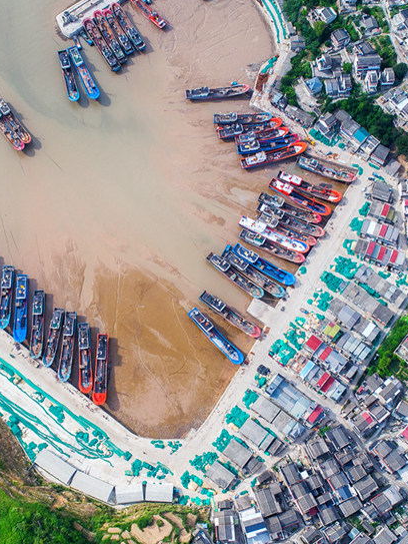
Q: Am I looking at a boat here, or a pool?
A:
boat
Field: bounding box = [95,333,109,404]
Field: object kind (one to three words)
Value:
boat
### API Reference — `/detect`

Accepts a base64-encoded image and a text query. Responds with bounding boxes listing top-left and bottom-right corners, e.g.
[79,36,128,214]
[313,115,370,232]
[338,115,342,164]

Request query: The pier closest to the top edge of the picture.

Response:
[57,0,131,41]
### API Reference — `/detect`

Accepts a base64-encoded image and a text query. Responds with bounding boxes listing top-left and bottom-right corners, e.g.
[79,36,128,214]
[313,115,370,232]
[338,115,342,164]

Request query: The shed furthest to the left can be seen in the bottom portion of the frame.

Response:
[35,448,78,483]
